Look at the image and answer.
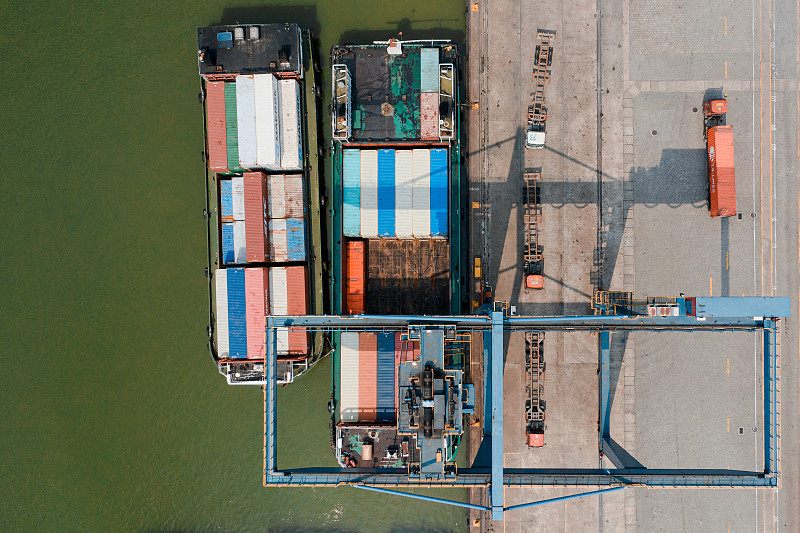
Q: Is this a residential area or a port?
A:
port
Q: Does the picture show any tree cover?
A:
No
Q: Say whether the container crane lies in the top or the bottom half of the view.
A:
bottom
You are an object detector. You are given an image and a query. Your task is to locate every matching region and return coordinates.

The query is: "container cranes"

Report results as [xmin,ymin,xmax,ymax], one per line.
[262,291,788,519]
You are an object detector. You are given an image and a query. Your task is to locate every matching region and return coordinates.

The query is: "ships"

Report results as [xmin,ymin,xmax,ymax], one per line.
[192,19,328,388]
[327,27,464,468]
